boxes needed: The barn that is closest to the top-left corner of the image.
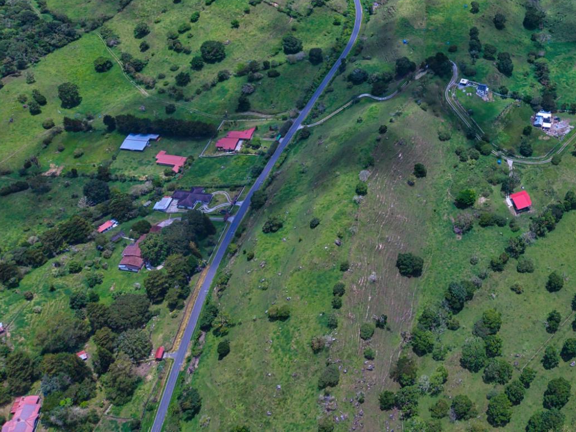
[118,135,160,154]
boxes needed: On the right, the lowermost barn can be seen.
[506,190,536,214]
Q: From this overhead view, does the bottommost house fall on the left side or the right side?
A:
left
